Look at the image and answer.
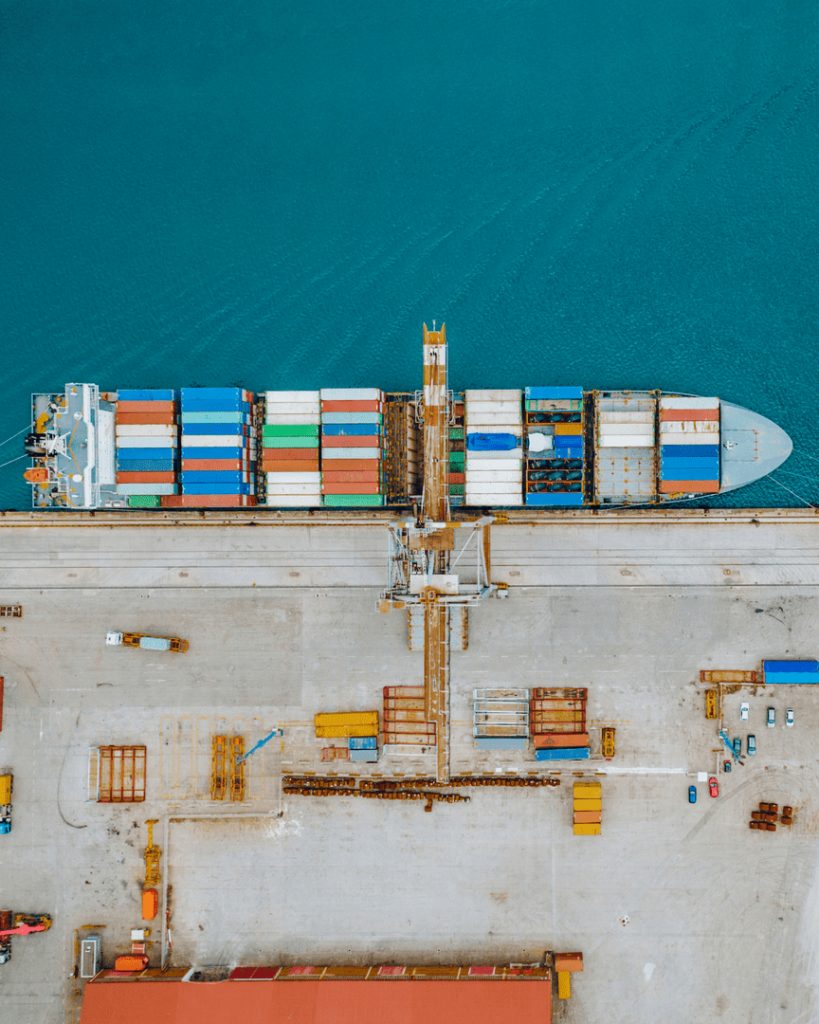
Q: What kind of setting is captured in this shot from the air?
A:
port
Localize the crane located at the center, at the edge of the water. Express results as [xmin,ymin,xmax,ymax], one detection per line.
[375,320,508,783]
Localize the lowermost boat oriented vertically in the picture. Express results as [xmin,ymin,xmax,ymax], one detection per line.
[145,884,158,919]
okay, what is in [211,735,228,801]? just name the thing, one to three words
trailer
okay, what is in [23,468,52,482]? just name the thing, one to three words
boat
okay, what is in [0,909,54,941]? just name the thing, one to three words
work vehicle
